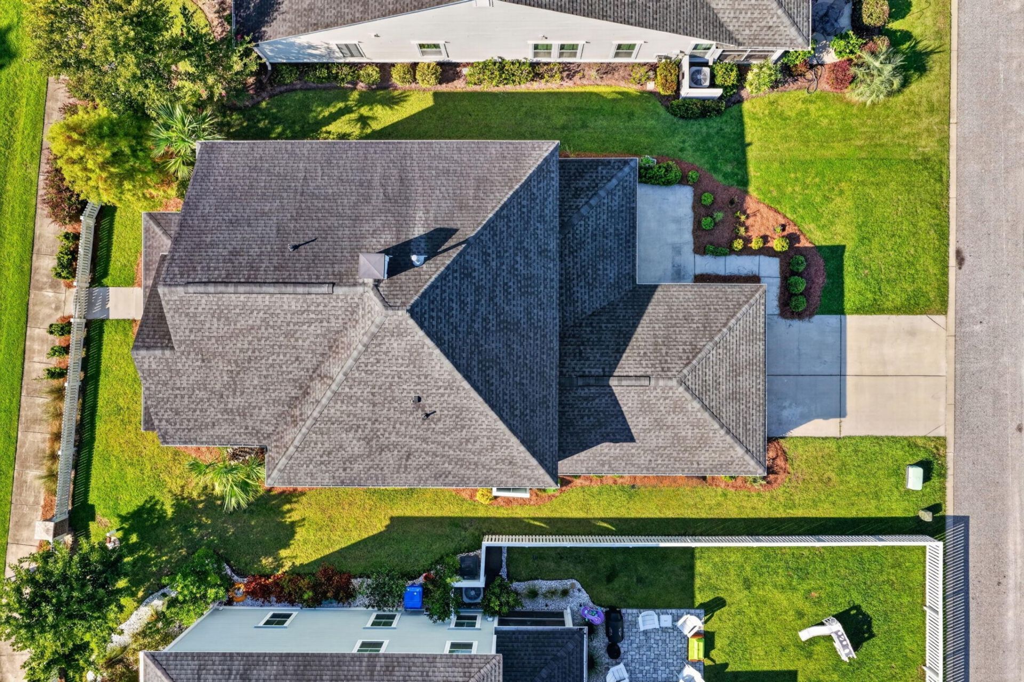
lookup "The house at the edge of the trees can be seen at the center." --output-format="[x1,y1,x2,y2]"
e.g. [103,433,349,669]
[132,139,769,488]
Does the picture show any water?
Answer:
No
